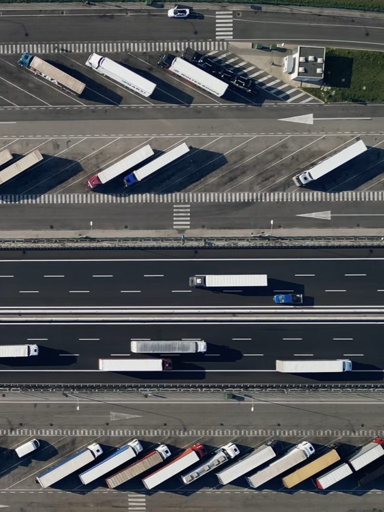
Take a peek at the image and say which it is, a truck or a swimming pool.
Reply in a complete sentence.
The one in the frame is a truck.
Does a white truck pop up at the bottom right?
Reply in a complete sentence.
Yes, I can see a white truck at the bottom right.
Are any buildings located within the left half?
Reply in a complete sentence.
No, I can find no building within the left half.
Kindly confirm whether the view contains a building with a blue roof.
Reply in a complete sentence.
No, the photo shows no building with a blue roof.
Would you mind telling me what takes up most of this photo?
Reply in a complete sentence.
Most of the picture is covered by paved ground.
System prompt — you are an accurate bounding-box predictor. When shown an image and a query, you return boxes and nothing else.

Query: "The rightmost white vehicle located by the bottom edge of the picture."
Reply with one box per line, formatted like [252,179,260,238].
[311,436,384,489]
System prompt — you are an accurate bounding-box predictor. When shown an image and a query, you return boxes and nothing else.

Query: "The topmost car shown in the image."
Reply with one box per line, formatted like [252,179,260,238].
[168,5,190,17]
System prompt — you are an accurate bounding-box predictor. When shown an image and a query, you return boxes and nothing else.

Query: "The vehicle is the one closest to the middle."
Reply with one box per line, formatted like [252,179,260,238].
[185,275,267,288]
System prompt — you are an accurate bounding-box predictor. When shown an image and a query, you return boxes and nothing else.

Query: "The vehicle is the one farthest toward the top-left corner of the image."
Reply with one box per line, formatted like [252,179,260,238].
[15,53,85,98]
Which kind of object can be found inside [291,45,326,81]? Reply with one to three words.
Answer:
building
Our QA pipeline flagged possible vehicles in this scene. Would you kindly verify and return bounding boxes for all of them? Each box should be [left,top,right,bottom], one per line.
[192,59,211,73]
[0,344,39,358]
[185,275,267,288]
[168,5,190,17]
[152,54,227,98]
[81,144,155,193]
[0,149,14,166]
[102,443,170,489]
[351,456,384,487]
[224,75,243,89]
[82,54,156,98]
[99,358,172,371]
[119,142,191,190]
[277,440,344,488]
[15,53,85,98]
[214,439,284,485]
[0,150,43,184]
[242,439,314,488]
[240,82,258,96]
[177,440,241,484]
[208,66,226,81]
[311,436,384,489]
[140,442,207,489]
[275,359,351,372]
[77,437,143,485]
[14,438,41,458]
[130,339,207,353]
[289,140,367,190]
[36,440,103,488]
[273,294,303,304]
